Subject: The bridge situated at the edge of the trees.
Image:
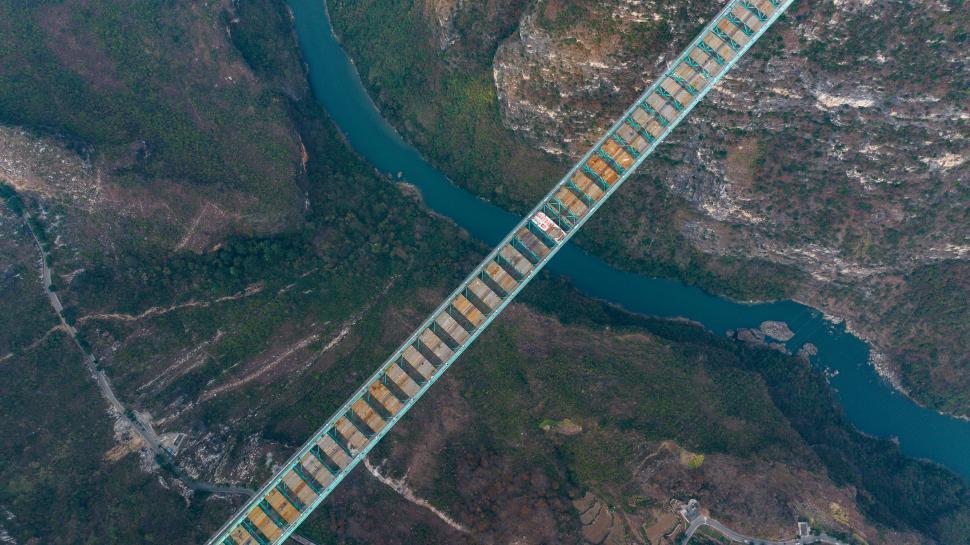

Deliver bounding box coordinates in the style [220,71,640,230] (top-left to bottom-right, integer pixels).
[203,0,795,545]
